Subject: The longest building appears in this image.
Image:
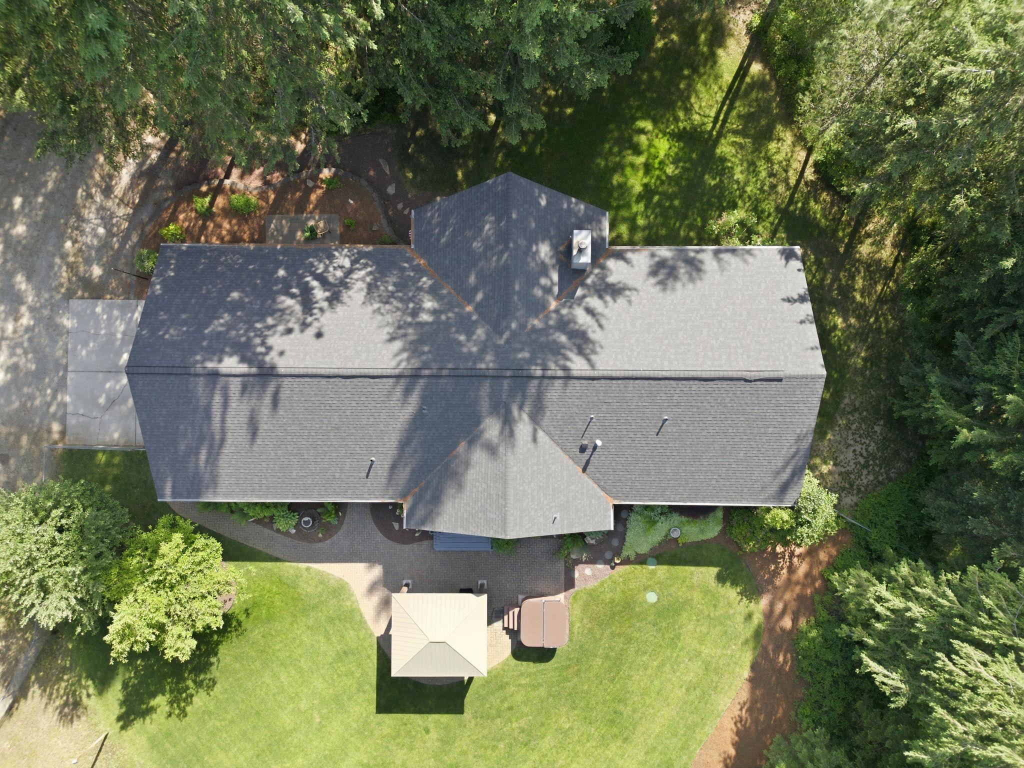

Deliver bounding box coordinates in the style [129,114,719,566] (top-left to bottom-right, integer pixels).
[125,172,827,539]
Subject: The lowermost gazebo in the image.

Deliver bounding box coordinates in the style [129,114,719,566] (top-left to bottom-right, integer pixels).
[391,581,488,678]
